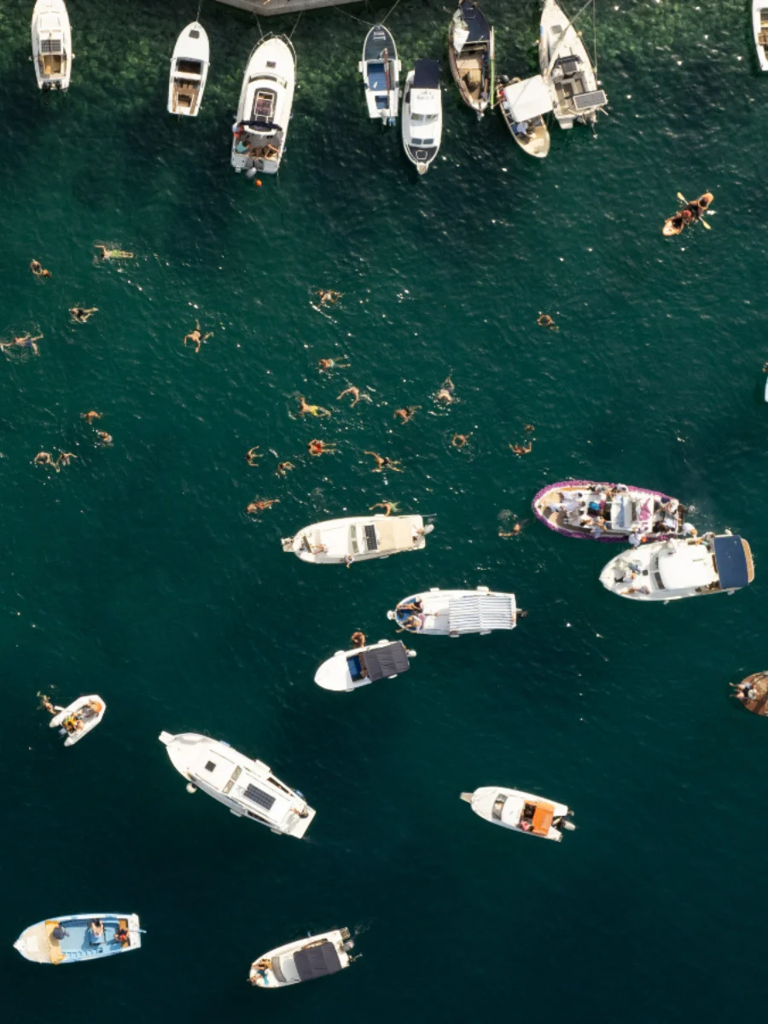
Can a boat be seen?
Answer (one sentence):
Yes, you can see a boat in this photo.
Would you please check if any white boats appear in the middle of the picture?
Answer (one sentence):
Yes, you'll find a white boat in the middle of the picture.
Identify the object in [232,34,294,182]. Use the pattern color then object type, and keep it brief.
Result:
white boat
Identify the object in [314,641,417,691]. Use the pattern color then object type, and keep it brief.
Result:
white boat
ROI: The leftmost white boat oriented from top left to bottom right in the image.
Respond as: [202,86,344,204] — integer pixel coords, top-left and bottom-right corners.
[159,731,318,839]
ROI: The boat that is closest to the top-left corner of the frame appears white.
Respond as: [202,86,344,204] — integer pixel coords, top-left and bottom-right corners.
[30,0,73,96]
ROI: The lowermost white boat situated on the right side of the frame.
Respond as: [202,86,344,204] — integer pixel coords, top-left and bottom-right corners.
[460,787,575,841]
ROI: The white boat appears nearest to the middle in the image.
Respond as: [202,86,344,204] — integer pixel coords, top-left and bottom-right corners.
[282,513,436,561]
